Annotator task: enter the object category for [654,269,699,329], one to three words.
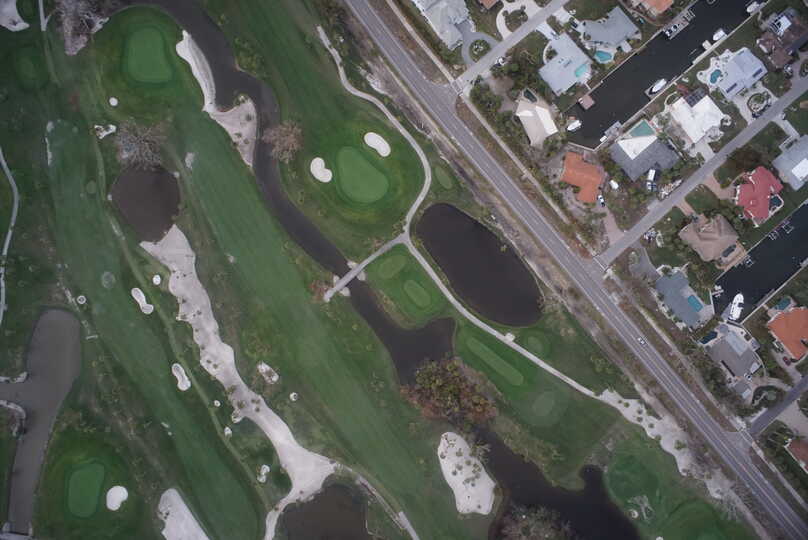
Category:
house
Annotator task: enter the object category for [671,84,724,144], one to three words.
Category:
house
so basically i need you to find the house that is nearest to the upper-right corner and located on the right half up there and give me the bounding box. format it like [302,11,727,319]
[759,6,808,68]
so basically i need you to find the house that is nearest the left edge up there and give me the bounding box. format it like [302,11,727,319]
[418,0,469,49]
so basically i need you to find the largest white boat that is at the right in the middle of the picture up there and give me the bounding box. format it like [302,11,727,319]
[729,293,744,323]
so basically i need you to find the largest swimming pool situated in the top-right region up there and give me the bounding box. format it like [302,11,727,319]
[629,118,657,137]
